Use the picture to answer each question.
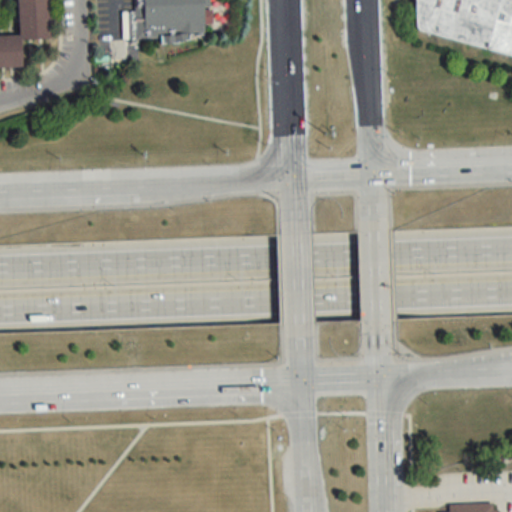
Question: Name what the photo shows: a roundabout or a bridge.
bridge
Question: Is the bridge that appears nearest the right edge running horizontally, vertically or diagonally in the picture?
vertically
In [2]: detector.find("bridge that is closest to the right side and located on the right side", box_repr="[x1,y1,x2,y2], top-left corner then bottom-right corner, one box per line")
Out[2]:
[358,228,397,324]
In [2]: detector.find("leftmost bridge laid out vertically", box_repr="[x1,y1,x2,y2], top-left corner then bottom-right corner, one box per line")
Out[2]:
[276,231,316,326]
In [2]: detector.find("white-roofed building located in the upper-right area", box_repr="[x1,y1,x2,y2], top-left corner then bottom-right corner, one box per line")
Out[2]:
[416,0,512,54]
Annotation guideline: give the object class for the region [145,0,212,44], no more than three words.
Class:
building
